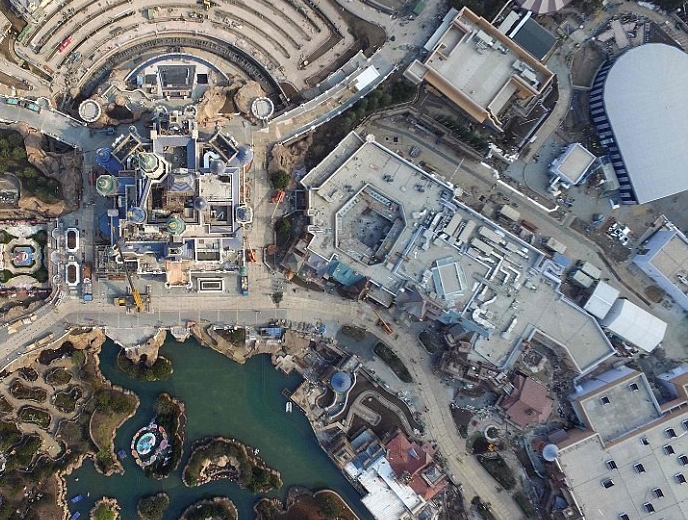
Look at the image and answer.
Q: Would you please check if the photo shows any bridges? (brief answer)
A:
Yes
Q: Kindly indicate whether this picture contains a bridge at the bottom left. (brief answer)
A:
No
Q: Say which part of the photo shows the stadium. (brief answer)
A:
top right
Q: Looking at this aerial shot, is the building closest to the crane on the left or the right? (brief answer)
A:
left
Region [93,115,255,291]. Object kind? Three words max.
building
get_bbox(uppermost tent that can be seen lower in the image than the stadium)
[582,281,619,319]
